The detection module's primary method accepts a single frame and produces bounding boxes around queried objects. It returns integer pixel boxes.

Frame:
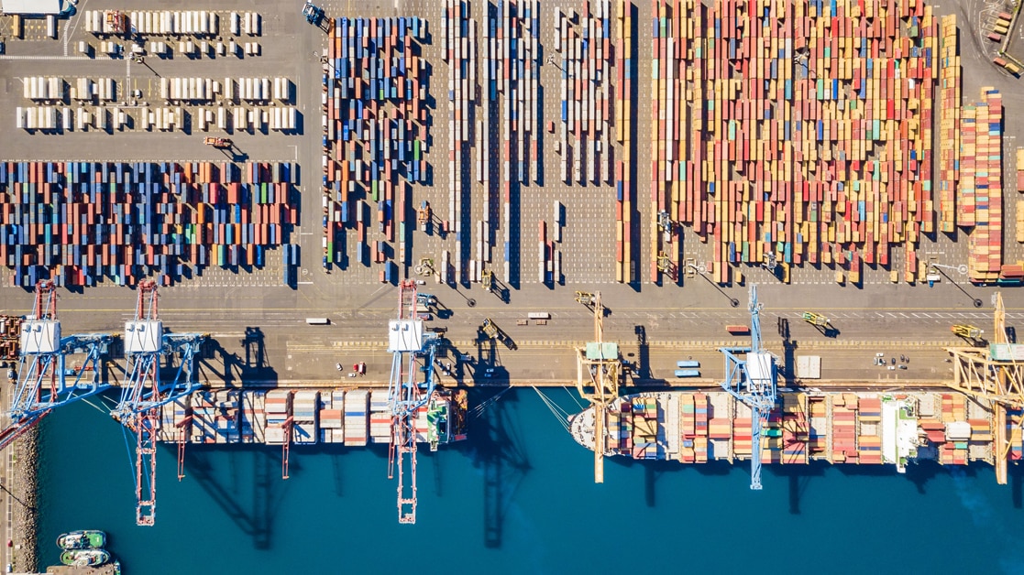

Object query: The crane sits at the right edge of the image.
[943,297,1024,482]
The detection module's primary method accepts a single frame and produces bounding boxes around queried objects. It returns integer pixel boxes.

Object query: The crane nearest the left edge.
[0,280,117,454]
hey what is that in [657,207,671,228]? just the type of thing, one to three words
work vehicle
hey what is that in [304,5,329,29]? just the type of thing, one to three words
work vehicle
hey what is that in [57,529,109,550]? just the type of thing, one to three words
boat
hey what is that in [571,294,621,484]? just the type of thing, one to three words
container crane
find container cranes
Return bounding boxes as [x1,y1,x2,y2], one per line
[571,294,621,484]
[387,280,441,525]
[0,280,117,454]
[943,297,1024,482]
[717,286,778,491]
[116,280,210,525]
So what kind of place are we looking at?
port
